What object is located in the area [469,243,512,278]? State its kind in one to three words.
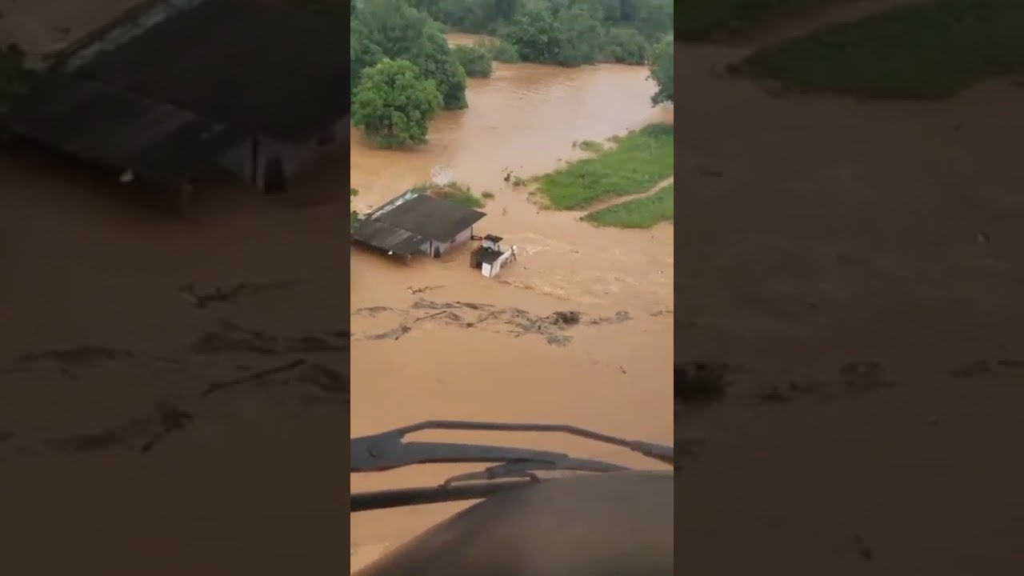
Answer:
shed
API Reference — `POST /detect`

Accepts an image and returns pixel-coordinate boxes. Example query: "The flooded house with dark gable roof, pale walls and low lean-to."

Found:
[350,194,486,261]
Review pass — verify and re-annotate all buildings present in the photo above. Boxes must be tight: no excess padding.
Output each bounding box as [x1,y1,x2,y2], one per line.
[350,194,486,261]
[469,243,512,278]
